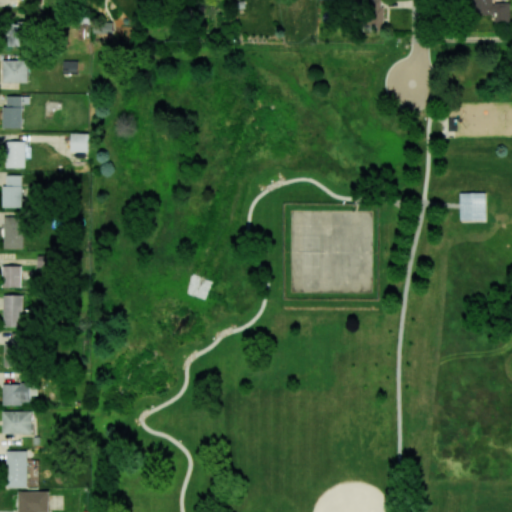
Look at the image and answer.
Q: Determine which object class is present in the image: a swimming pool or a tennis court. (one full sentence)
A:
Looking from above, you can make out a tennis court.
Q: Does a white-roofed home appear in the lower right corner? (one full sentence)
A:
No, in the lower right corner there is no white-roofed home.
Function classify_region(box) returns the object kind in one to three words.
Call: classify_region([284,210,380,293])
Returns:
tennis court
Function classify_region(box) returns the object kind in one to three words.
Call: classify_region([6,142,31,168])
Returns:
house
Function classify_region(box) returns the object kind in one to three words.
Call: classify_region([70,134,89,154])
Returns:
building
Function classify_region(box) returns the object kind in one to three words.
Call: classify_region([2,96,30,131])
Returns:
house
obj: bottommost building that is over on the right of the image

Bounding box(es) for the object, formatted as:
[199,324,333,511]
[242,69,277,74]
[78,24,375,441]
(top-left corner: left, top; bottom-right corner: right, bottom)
[460,192,487,223]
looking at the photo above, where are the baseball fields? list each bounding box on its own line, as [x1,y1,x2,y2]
[313,480,386,512]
